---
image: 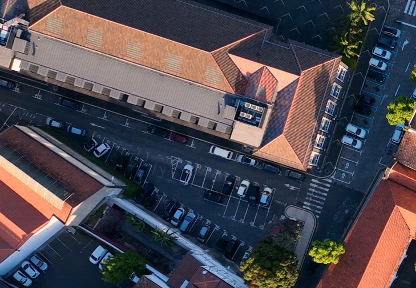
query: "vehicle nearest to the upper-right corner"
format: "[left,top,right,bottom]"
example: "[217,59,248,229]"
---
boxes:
[380,25,402,39]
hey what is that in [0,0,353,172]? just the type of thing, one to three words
building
